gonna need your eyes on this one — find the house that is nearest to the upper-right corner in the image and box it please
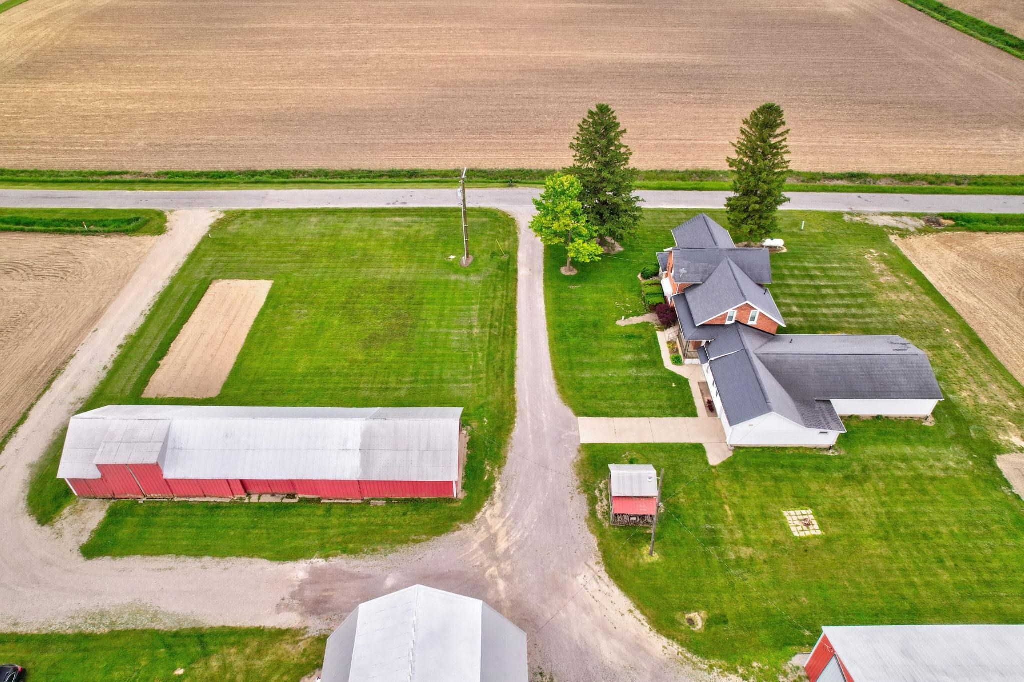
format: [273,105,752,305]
[655,214,944,453]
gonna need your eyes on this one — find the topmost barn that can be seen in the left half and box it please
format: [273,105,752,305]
[54,405,465,500]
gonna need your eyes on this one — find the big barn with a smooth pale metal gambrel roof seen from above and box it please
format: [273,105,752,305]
[319,585,529,682]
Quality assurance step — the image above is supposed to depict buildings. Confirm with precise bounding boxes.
[655,214,944,453]
[54,405,465,500]
[606,464,658,527]
[805,627,1024,682]
[319,585,529,682]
